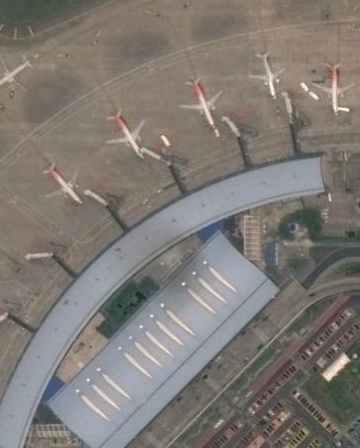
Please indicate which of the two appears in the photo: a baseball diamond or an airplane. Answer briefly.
airplane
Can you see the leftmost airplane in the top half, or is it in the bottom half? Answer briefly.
top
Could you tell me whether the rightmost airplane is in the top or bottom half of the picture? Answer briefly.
top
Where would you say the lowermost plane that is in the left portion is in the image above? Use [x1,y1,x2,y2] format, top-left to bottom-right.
[43,160,84,204]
